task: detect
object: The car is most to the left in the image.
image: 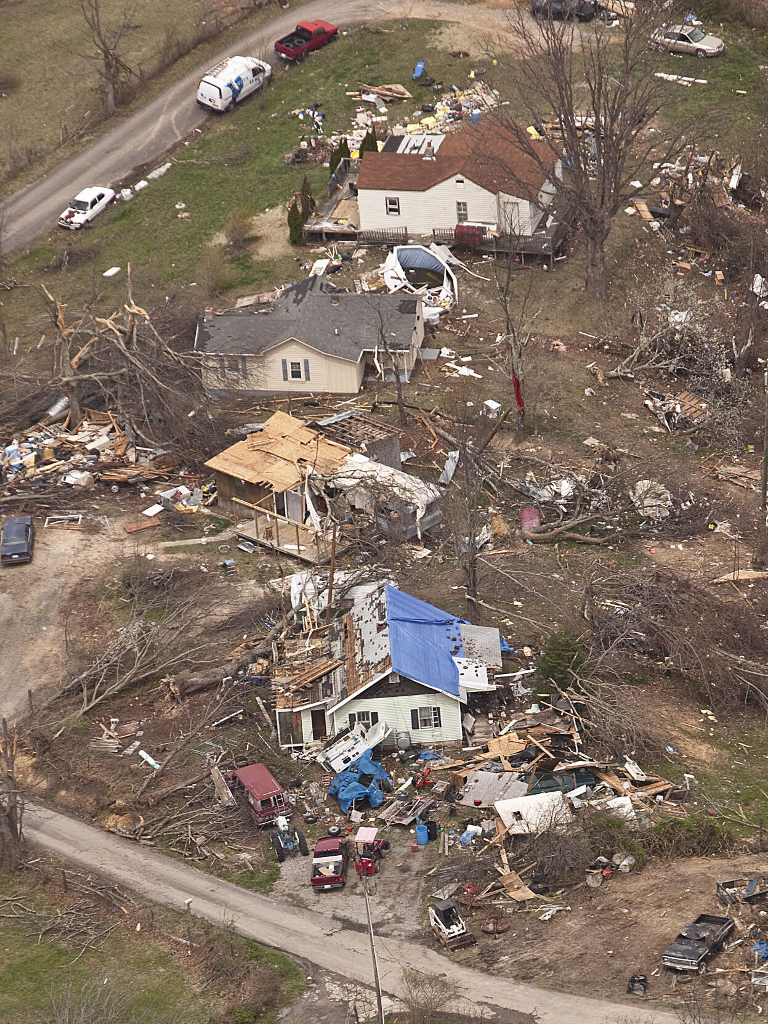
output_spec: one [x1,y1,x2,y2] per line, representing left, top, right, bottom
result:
[0,511,33,561]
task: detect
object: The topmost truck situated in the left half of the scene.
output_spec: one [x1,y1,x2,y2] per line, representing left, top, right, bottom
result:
[270,16,344,56]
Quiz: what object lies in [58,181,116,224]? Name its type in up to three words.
car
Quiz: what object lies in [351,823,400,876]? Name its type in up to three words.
work vehicle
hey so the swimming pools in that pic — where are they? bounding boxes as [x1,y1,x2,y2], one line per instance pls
[387,244,459,308]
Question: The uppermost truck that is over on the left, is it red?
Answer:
Yes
